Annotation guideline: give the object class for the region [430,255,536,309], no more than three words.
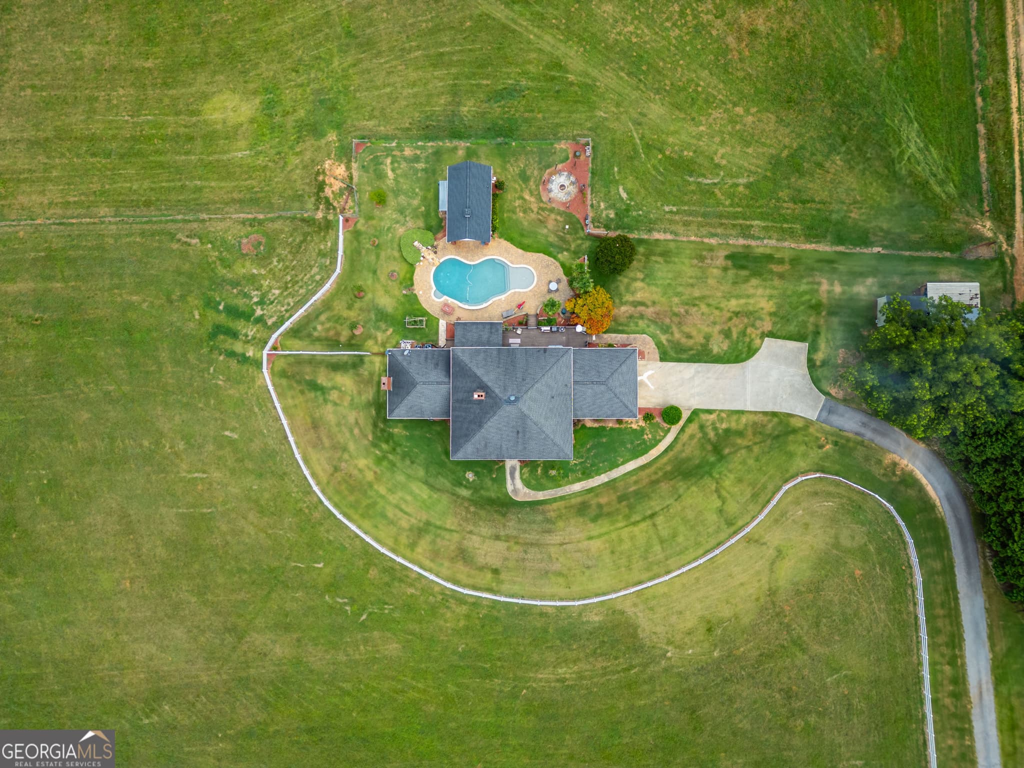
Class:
swimming pool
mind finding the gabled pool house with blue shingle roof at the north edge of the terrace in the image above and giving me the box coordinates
[438,161,492,248]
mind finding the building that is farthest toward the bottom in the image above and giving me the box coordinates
[381,321,638,460]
